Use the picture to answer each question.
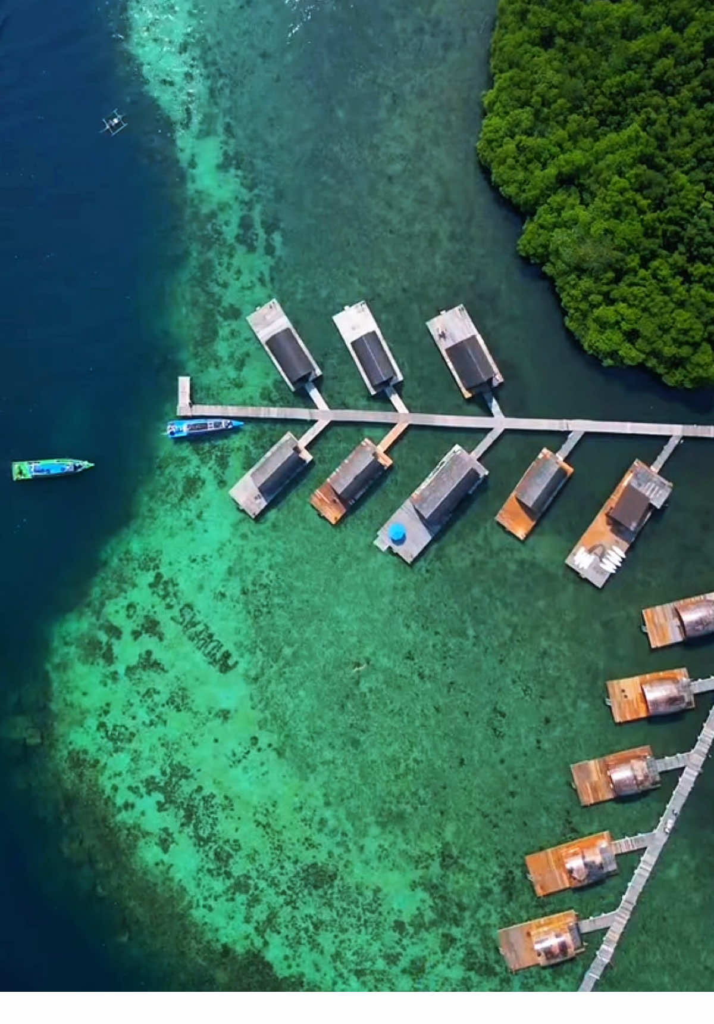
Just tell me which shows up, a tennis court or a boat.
boat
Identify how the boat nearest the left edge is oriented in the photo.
horizontally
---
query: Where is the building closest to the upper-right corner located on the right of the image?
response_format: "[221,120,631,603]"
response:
[426,303,504,401]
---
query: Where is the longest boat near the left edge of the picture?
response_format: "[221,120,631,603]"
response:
[10,458,96,481]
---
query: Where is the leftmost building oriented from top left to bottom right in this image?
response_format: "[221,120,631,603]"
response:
[246,298,322,392]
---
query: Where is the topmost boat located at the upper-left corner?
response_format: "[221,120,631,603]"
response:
[101,108,128,136]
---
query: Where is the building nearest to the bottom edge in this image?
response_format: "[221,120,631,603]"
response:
[500,909,586,972]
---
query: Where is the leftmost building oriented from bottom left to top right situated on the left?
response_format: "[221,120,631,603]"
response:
[229,432,315,519]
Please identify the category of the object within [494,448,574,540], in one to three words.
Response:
building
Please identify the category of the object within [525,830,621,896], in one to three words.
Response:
building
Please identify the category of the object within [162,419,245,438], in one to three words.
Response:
boat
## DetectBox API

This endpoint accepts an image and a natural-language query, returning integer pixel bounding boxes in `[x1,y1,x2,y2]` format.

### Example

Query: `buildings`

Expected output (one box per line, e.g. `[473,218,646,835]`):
[332,301,405,396]
[246,298,322,392]
[500,909,586,972]
[604,666,695,724]
[525,830,621,896]
[494,448,574,540]
[565,458,675,587]
[373,444,489,563]
[229,432,315,519]
[309,438,393,525]
[426,303,504,401]
[640,591,714,649]
[571,745,661,807]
